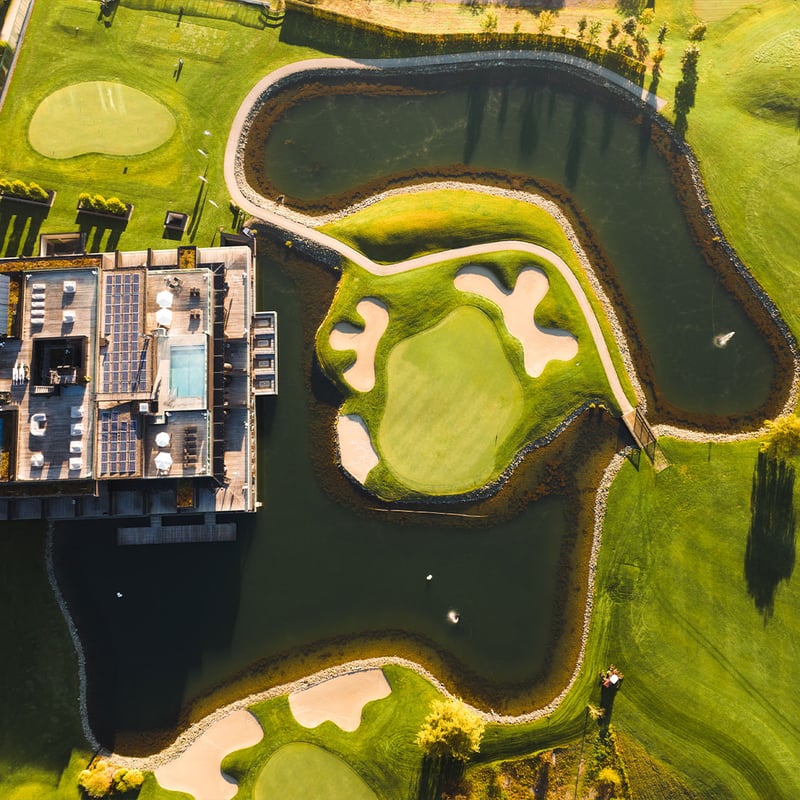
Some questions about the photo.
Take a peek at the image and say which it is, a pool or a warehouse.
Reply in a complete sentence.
Looking from above, you can make out a pool.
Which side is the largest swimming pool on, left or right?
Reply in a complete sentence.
The largest swimming pool is on the left side of the image.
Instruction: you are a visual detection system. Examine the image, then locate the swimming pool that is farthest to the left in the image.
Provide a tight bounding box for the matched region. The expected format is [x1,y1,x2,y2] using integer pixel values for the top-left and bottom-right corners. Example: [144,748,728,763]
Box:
[149,336,211,427]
